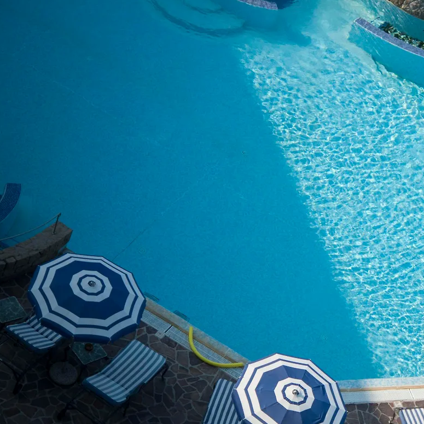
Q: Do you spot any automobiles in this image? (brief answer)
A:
No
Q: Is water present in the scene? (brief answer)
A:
Yes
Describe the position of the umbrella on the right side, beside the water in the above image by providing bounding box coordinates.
[231,353,348,424]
